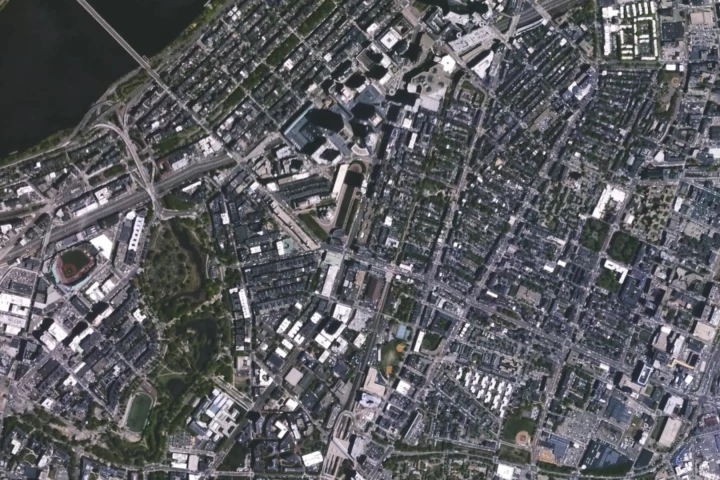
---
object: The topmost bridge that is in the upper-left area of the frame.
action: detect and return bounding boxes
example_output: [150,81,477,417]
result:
[76,0,159,81]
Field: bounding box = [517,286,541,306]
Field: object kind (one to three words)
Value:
building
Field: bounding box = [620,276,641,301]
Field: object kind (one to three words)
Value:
building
